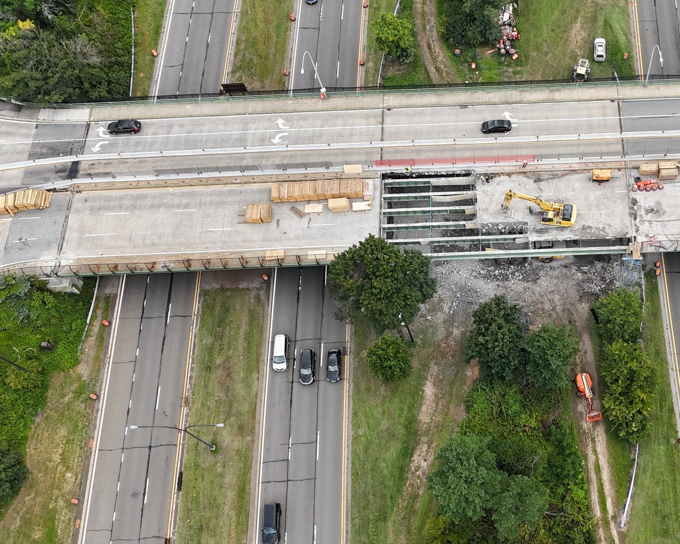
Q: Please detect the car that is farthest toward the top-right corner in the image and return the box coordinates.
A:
[593,38,607,63]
